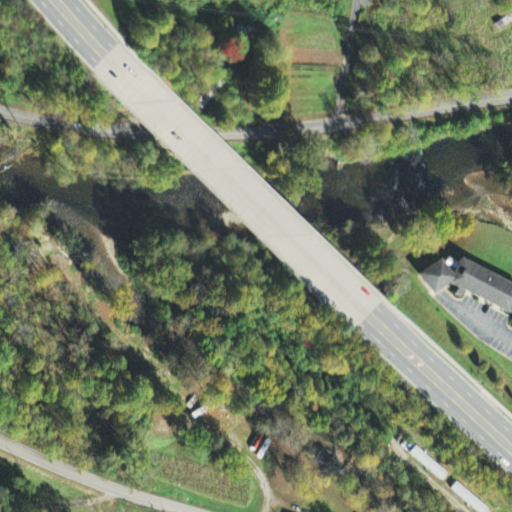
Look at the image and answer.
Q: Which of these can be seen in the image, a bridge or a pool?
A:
bridge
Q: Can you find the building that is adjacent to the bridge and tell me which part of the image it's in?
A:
right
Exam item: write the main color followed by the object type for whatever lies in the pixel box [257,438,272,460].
white vehicle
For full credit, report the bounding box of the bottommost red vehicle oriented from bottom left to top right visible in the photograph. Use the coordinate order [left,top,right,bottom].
[250,434,264,452]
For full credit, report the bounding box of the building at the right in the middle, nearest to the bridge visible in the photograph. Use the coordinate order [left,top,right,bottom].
[420,258,512,312]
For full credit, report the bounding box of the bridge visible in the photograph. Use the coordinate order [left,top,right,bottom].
[87,38,388,337]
